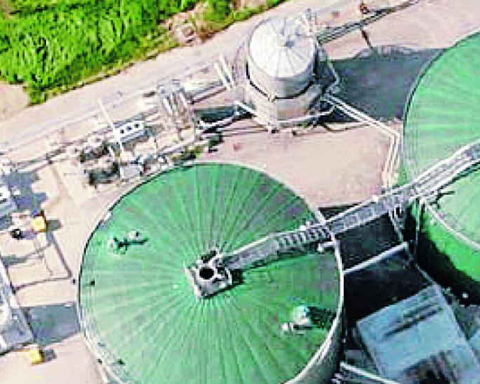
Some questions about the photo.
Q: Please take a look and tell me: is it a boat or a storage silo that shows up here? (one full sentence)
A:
Looking from above, you can make out a storage silo.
